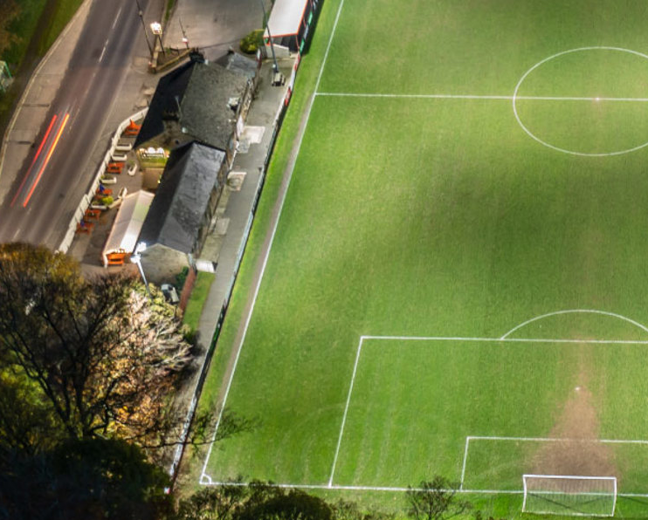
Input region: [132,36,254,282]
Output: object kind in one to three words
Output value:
house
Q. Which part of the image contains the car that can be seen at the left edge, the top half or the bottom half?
top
